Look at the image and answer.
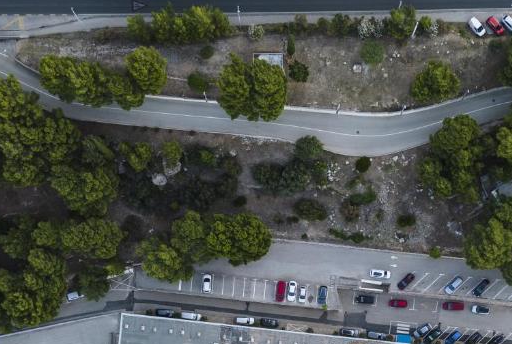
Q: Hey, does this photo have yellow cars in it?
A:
No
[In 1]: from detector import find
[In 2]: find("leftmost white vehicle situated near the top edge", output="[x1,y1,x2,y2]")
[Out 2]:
[468,16,486,37]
